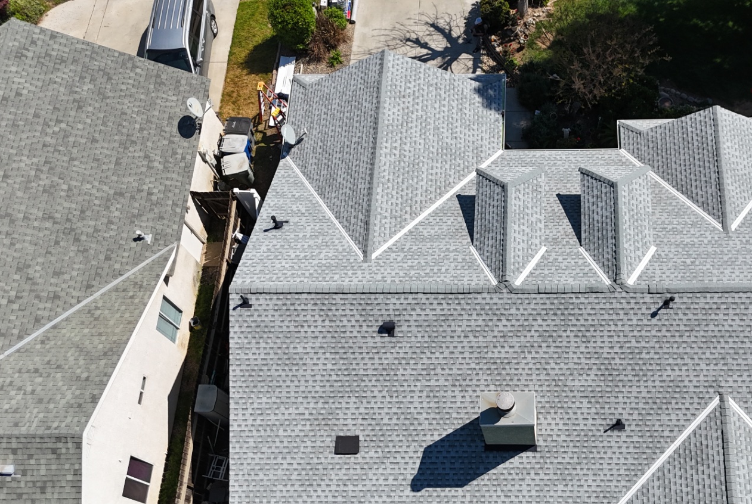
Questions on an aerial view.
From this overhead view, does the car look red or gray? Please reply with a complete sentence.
The color of the car is gray.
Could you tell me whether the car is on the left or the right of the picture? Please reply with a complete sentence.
The car sits on the left side.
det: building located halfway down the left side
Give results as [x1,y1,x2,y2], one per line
[0,18,222,504]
